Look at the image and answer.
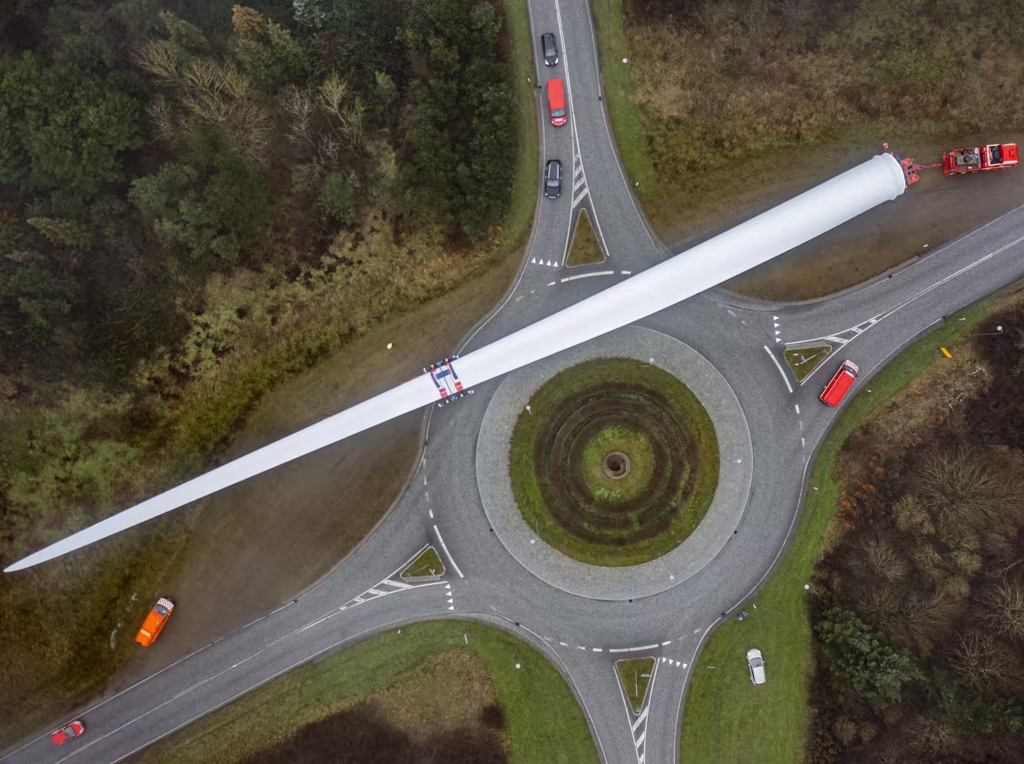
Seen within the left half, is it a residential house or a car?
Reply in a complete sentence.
The feature located within the left half is a car.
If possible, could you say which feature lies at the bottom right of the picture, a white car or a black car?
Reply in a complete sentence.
What appears at the bottom right of the picture is a white car.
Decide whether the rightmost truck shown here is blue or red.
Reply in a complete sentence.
The rightmost truck looks red in the image.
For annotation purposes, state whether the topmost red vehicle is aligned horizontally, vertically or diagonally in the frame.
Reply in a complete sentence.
From this overhead view, the topmost red vehicle appears to run vertically.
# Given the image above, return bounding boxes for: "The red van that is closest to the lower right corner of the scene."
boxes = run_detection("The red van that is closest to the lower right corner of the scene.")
[820,359,859,407]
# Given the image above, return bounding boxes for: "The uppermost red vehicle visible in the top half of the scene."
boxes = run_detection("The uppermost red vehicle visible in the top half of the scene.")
[547,81,568,127]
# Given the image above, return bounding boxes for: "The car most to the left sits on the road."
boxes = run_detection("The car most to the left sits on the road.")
[49,719,87,748]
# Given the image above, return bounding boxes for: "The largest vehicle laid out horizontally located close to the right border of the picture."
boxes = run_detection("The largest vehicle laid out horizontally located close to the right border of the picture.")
[937,142,1022,178]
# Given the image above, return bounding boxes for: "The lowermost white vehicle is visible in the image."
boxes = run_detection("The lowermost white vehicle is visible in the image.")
[745,647,767,686]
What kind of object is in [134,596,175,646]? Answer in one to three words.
van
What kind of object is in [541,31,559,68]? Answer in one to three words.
car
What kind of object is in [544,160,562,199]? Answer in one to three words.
car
